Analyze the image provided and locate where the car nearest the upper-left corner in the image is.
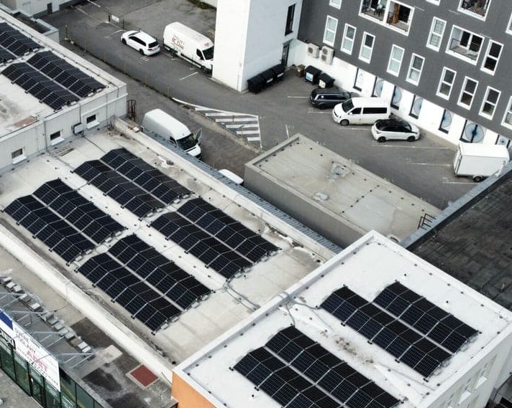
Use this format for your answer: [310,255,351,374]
[120,30,163,56]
